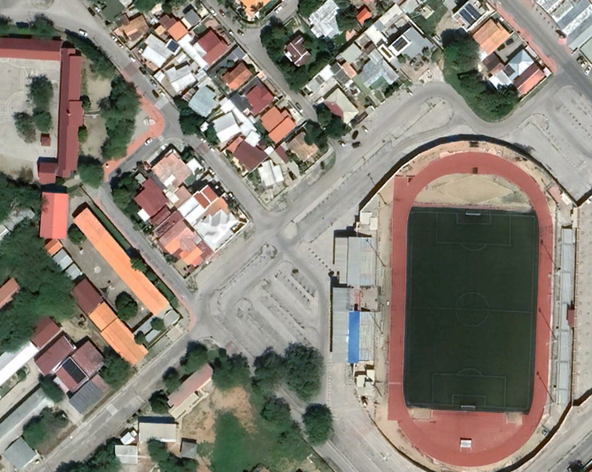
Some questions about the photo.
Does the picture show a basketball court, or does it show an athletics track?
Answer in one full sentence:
It is an athletics track that can be seen here.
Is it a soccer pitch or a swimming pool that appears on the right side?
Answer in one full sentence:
What appears on the right side is a soccer pitch.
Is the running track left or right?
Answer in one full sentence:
It is on the right.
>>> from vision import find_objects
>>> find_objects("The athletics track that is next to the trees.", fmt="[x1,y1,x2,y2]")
[388,151,552,467]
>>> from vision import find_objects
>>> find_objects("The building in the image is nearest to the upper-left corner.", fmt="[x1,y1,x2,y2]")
[0,37,63,61]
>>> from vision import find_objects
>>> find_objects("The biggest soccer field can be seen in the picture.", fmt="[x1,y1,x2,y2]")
[403,208,539,413]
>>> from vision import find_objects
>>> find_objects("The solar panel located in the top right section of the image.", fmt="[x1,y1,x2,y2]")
[459,2,480,24]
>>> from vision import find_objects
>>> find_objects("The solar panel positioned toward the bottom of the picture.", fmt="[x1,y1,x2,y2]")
[61,360,86,386]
